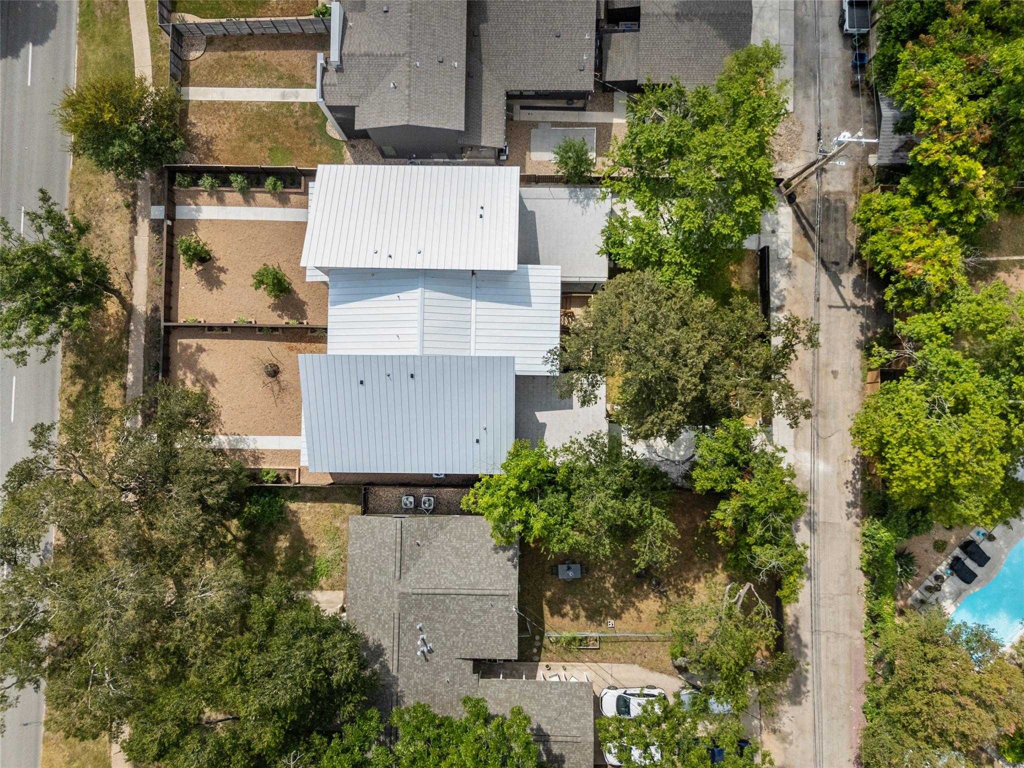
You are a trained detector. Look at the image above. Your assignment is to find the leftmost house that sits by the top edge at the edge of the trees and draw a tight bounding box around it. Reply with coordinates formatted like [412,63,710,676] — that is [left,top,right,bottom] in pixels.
[316,0,596,159]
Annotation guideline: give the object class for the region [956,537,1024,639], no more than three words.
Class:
swimming pool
